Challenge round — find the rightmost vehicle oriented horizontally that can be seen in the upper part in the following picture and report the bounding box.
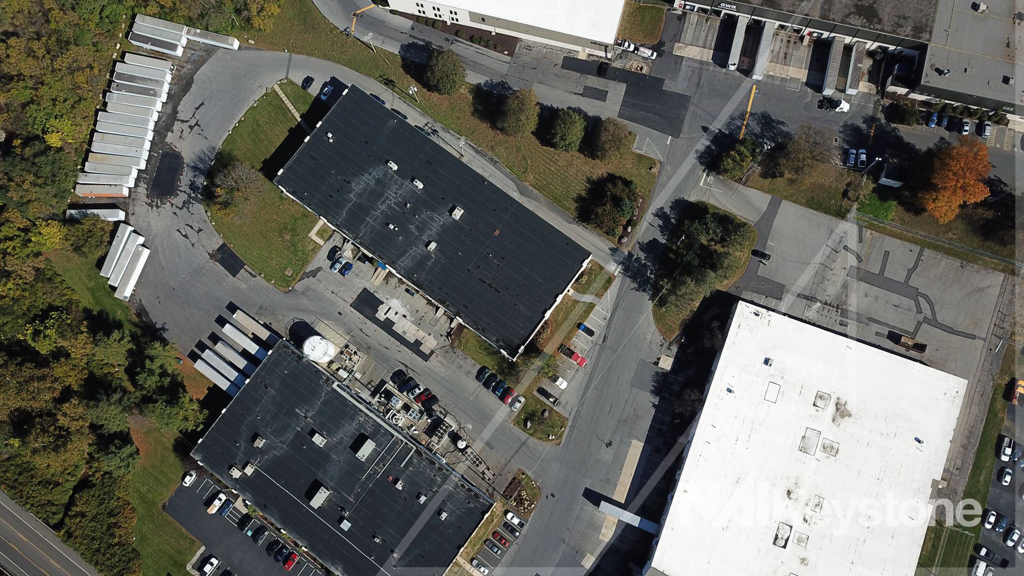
[817,99,850,114]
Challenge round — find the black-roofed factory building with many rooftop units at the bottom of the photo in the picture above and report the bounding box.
[191,340,498,576]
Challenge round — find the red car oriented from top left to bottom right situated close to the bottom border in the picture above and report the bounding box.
[492,531,511,548]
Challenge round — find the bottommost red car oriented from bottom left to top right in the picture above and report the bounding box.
[282,552,300,571]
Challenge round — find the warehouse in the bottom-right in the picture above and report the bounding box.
[644,301,968,576]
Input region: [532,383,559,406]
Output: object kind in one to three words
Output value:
truck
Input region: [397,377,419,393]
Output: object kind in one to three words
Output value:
vehicle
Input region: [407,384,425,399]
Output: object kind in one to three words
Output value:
car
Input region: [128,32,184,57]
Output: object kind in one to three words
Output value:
trailer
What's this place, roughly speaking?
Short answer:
industrial area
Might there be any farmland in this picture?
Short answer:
No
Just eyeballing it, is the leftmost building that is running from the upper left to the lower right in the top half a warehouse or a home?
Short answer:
warehouse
